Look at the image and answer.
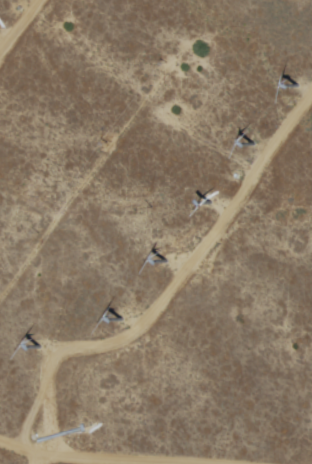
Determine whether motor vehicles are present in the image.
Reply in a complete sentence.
No, no motor vehicle is visible in the scene.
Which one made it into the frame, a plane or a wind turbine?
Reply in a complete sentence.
The image shows a wind turbine.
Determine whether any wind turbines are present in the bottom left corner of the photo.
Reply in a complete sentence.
Yes, I can see a wind turbine in the bottom left corner of the photo.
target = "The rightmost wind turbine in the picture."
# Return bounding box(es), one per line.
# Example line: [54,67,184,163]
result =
[272,73,300,101]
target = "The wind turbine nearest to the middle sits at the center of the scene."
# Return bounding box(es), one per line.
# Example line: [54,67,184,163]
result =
[138,252,168,276]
